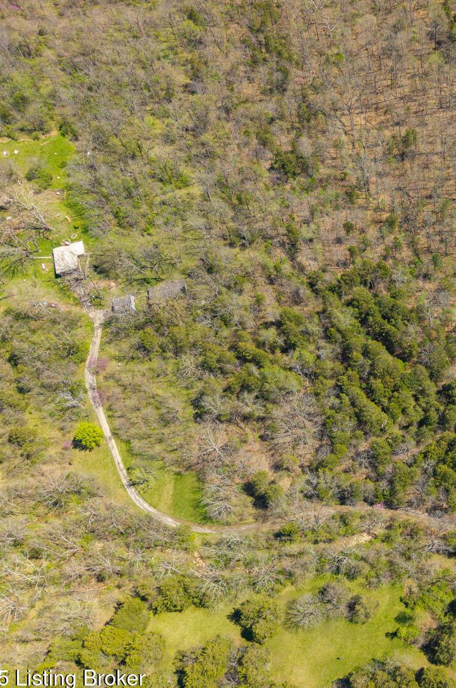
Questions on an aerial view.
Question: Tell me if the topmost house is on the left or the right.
left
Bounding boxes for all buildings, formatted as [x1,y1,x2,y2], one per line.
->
[146,281,185,304]
[110,295,135,314]
[52,240,87,277]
